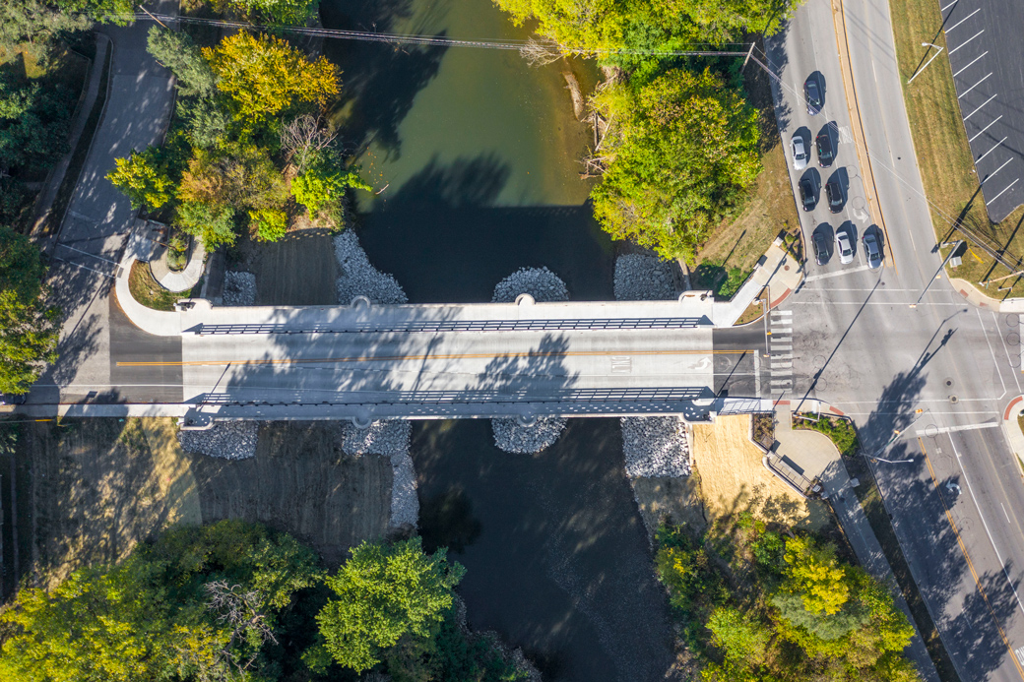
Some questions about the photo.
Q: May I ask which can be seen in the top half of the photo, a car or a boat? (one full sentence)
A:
Looking in the top half of the photo, you will find a car.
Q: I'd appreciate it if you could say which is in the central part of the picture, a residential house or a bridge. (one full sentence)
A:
There is a bridge in the central part of the picture.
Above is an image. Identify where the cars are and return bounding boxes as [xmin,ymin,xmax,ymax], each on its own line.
[834,229,855,265]
[810,231,831,267]
[824,180,845,216]
[803,80,823,116]
[814,133,835,169]
[862,233,883,270]
[797,176,819,213]
[0,389,28,406]
[788,134,808,171]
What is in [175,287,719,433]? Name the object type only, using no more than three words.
bridge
